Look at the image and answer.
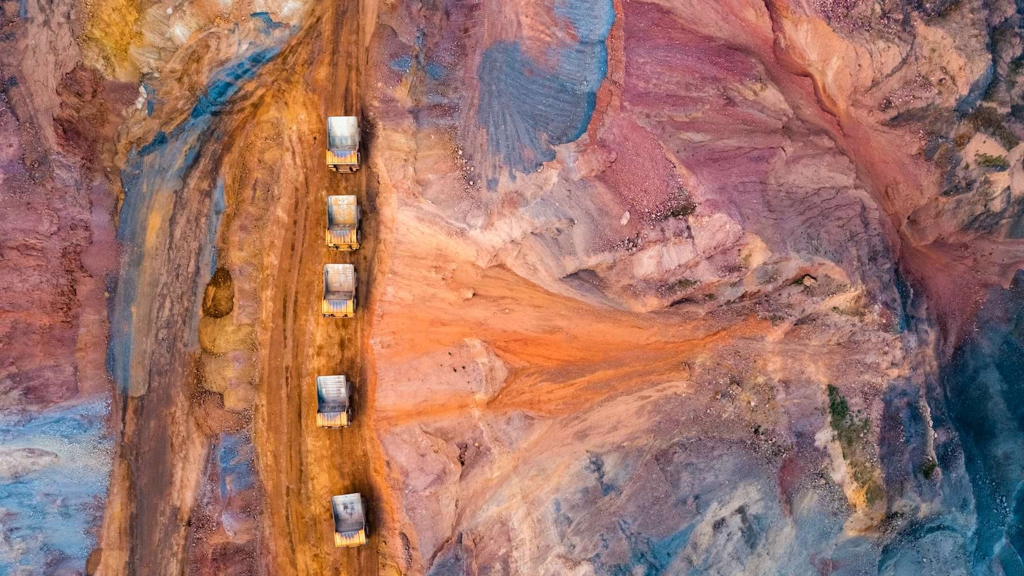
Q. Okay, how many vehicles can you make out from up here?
5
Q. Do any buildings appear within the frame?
No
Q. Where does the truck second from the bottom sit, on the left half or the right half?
left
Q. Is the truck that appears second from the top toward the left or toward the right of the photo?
left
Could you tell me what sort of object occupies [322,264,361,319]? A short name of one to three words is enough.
truck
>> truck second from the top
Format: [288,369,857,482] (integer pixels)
[324,195,363,252]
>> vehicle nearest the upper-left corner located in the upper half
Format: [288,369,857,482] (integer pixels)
[324,116,364,175]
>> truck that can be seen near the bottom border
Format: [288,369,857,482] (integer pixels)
[332,491,373,549]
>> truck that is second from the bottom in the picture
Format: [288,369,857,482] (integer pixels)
[316,375,355,431]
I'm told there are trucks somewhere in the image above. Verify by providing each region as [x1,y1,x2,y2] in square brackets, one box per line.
[324,116,364,175]
[332,491,373,549]
[322,264,361,319]
[316,375,355,431]
[324,195,363,252]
